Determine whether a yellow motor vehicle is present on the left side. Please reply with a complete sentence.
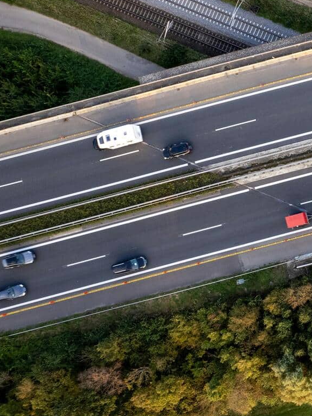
No, I see no yellow motor vehicle on the left side.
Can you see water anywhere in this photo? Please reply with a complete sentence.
No, water can't be seen anywhere here.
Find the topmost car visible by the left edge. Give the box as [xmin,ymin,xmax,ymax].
[2,249,37,269]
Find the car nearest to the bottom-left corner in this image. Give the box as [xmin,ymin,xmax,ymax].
[0,283,28,302]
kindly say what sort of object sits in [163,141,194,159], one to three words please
car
